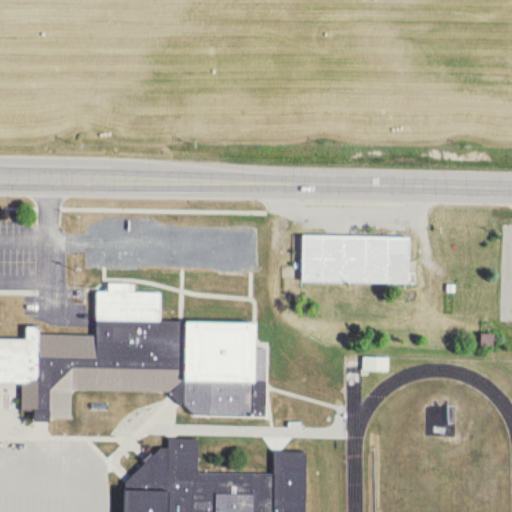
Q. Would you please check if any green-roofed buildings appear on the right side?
No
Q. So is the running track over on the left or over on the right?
right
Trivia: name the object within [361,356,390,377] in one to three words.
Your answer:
shed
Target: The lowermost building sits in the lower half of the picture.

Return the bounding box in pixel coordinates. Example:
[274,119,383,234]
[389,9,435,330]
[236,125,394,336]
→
[124,438,306,512]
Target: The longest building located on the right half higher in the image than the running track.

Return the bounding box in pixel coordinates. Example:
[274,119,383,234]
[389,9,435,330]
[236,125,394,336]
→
[302,234,412,285]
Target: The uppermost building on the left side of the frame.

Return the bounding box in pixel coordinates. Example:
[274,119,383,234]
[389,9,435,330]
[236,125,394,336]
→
[0,284,266,422]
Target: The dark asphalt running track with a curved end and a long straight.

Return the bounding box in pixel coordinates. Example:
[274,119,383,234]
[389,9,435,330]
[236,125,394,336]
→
[347,363,512,512]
